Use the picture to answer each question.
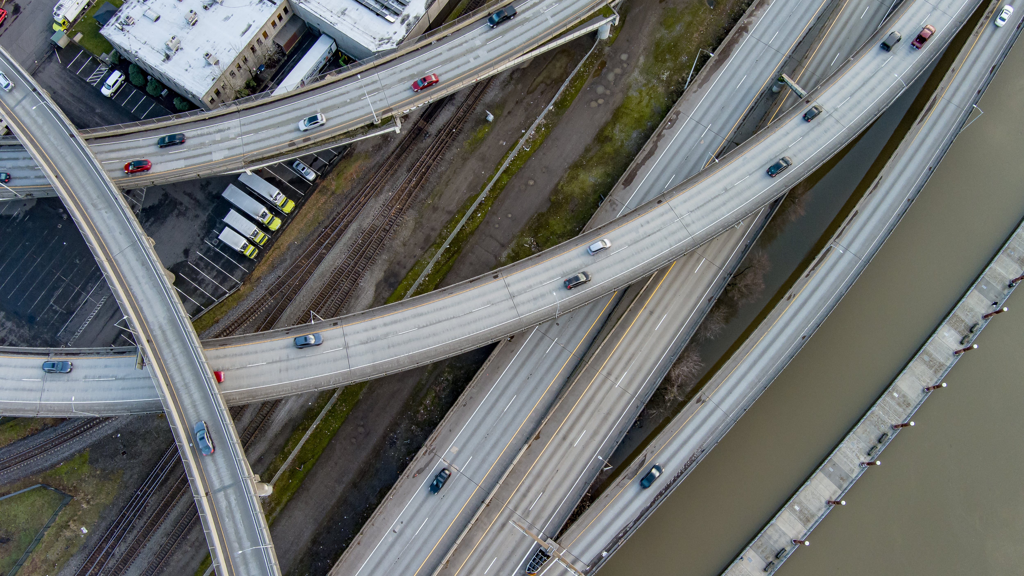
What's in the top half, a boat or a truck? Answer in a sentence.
It is a truck that can be seen in the top half.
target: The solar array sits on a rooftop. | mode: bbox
[355,0,410,20]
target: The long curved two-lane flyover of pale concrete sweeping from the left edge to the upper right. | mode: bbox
[0,0,983,416]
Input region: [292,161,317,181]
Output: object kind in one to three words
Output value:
car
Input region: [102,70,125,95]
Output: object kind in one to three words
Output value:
car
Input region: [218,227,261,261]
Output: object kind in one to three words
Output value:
truck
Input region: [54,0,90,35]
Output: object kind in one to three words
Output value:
truck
